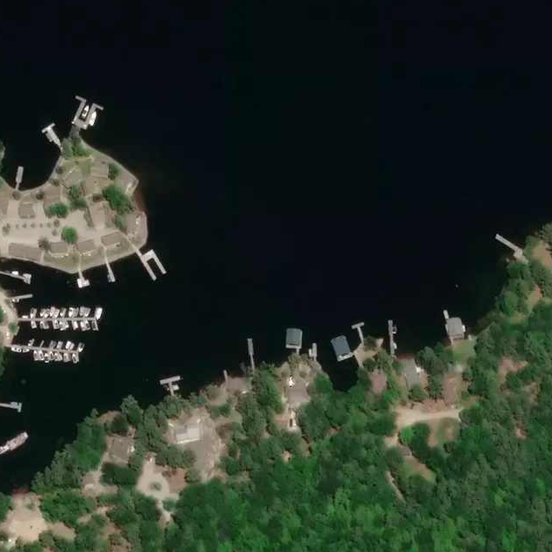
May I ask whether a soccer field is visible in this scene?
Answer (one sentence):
No, there is no soccer field in the image.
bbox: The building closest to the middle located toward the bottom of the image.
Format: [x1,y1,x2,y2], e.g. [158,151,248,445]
[285,330,303,350]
